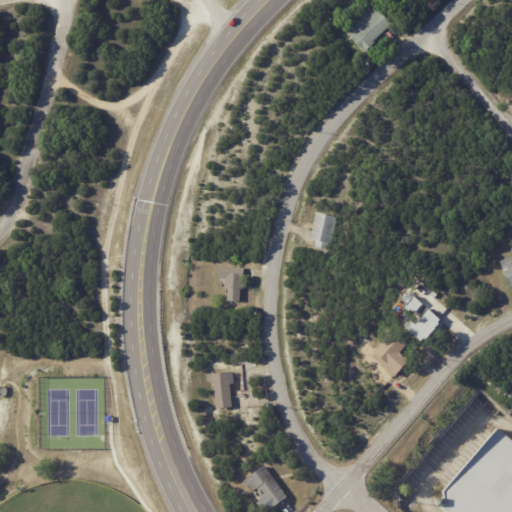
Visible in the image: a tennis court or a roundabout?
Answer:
tennis court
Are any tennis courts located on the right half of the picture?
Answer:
No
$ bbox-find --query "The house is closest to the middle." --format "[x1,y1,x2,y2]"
[218,266,244,303]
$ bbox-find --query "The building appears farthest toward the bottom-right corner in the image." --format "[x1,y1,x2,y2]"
[442,430,512,512]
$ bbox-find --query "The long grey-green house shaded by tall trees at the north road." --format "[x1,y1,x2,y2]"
[347,8,392,49]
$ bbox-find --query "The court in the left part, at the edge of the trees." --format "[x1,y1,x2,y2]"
[40,378,104,450]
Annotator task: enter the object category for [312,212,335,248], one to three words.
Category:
barn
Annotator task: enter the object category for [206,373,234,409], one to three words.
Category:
house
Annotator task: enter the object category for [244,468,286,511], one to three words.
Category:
house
